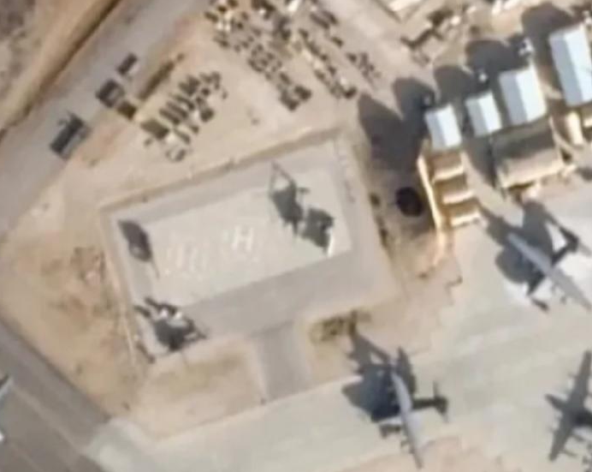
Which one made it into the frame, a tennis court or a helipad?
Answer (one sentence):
Looking from above, you can make out a helipad.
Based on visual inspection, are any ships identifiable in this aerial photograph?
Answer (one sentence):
No, this view has no ship in it.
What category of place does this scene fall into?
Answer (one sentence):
This looks like an airport.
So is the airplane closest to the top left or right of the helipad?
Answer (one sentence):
To the right of the helipad is where the airplane closest to the top appears.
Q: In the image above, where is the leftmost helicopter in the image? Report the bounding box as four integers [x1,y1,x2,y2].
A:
[136,233,162,280]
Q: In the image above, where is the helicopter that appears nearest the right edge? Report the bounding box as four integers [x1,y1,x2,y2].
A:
[314,211,333,260]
